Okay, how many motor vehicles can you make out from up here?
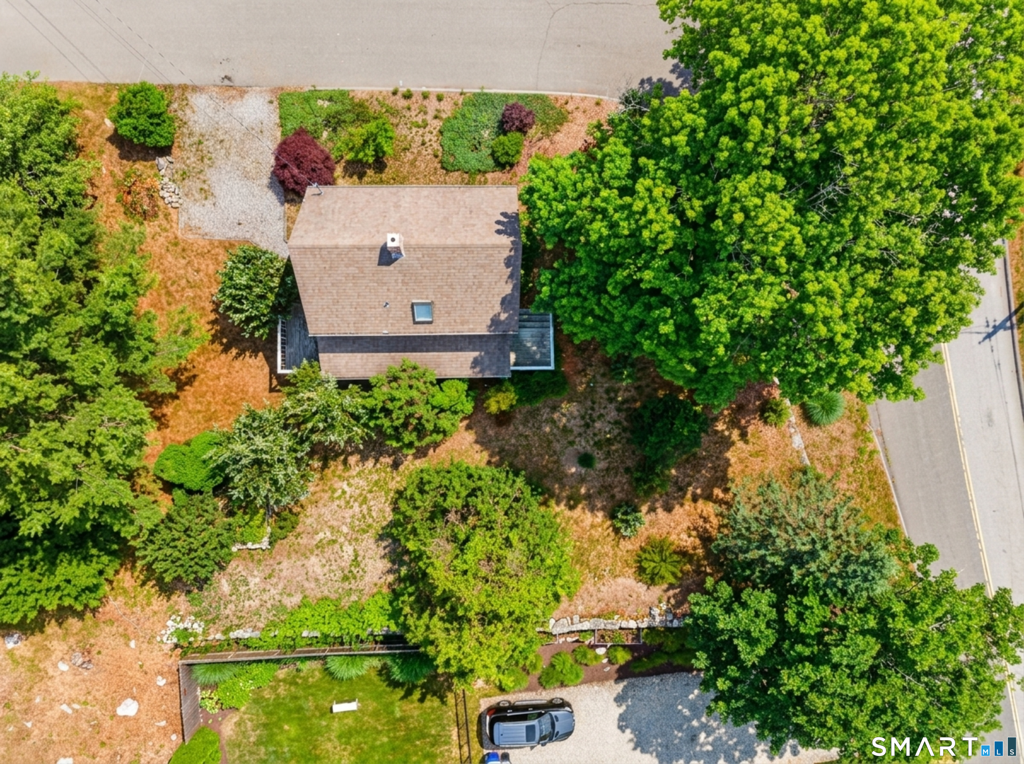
1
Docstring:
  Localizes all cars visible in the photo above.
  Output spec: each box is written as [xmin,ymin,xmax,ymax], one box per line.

[480,696,575,748]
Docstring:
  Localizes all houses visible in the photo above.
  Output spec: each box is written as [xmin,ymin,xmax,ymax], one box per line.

[284,184,521,379]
